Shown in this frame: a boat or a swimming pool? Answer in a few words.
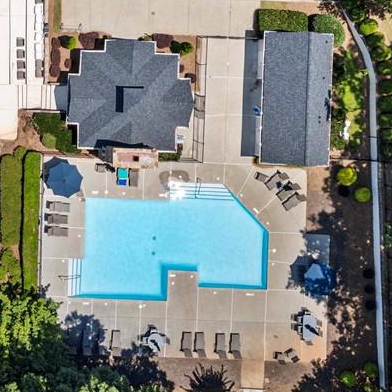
swimming pool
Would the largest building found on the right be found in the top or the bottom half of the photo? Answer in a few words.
top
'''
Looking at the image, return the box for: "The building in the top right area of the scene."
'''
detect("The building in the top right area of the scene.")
[254,31,335,169]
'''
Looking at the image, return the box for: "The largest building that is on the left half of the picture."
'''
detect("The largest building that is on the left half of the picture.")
[66,38,196,155]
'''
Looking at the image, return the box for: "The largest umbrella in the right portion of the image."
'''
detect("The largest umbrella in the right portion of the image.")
[300,260,333,294]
